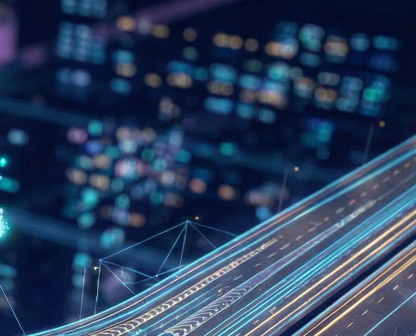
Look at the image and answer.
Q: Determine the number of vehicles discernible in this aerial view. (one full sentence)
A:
There are no vehicles in this view.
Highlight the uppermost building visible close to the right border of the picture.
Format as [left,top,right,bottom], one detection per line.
[308,15,409,68]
